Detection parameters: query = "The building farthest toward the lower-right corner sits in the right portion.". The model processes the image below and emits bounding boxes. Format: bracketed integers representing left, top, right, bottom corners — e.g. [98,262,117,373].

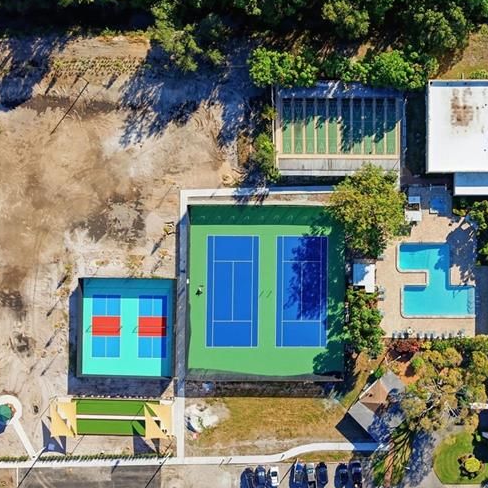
[348,370,416,443]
